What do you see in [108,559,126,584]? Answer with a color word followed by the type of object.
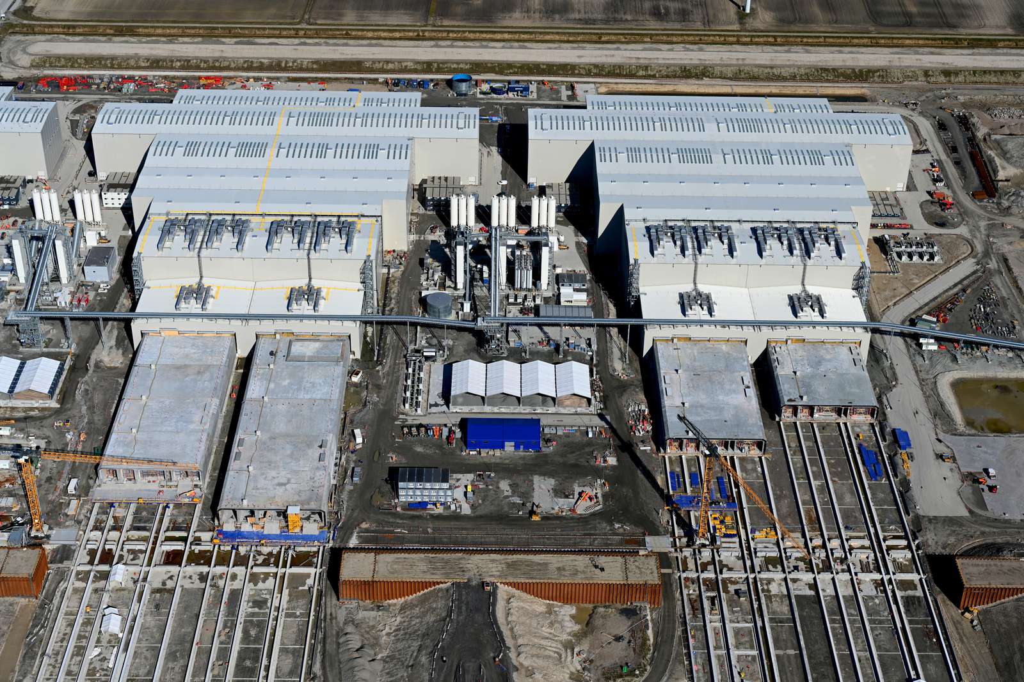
white tent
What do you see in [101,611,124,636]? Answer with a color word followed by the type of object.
white tent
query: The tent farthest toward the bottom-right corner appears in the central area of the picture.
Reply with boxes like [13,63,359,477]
[556,361,590,405]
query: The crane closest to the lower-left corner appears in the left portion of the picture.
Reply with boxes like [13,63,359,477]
[0,445,199,543]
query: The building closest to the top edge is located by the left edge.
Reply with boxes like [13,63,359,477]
[0,86,64,179]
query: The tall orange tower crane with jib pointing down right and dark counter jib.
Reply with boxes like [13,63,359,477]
[679,412,810,576]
